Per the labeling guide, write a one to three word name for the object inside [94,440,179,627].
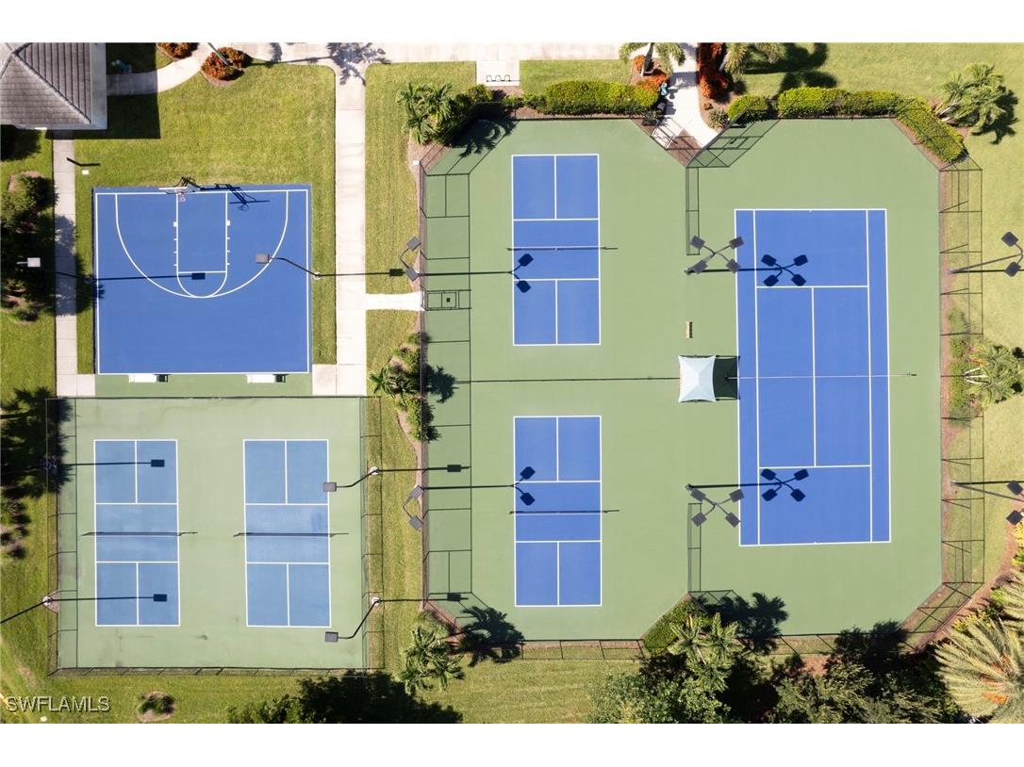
sports court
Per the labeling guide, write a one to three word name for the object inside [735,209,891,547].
tennis court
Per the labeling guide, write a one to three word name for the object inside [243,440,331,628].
sports court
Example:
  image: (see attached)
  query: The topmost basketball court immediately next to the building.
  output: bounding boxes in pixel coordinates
[93,185,312,374]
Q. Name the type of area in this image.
sports ground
